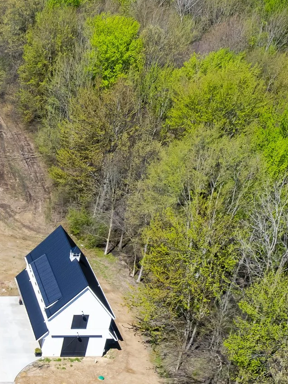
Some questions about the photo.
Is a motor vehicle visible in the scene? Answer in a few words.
No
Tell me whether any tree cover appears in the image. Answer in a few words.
Yes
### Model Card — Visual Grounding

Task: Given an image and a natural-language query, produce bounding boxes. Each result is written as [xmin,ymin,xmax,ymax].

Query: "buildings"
[12,224,118,356]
